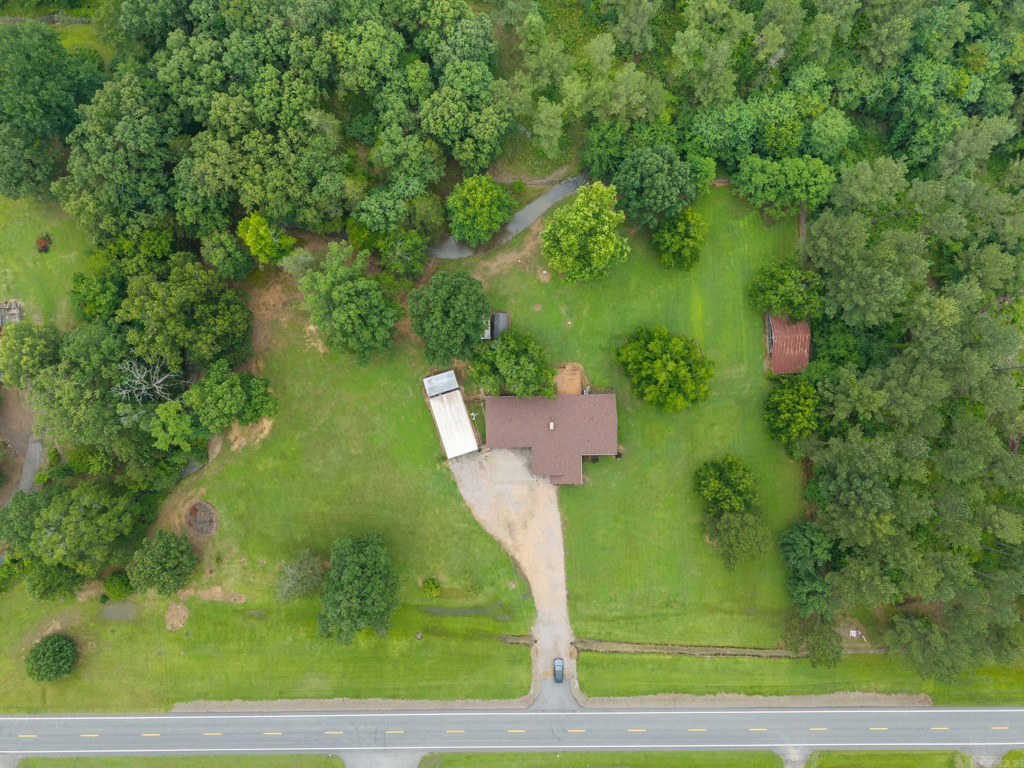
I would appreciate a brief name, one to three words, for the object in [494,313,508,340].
shed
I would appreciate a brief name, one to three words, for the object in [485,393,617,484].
house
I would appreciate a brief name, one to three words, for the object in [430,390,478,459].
building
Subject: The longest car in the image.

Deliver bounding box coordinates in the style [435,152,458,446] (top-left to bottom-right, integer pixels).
[553,660,565,685]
